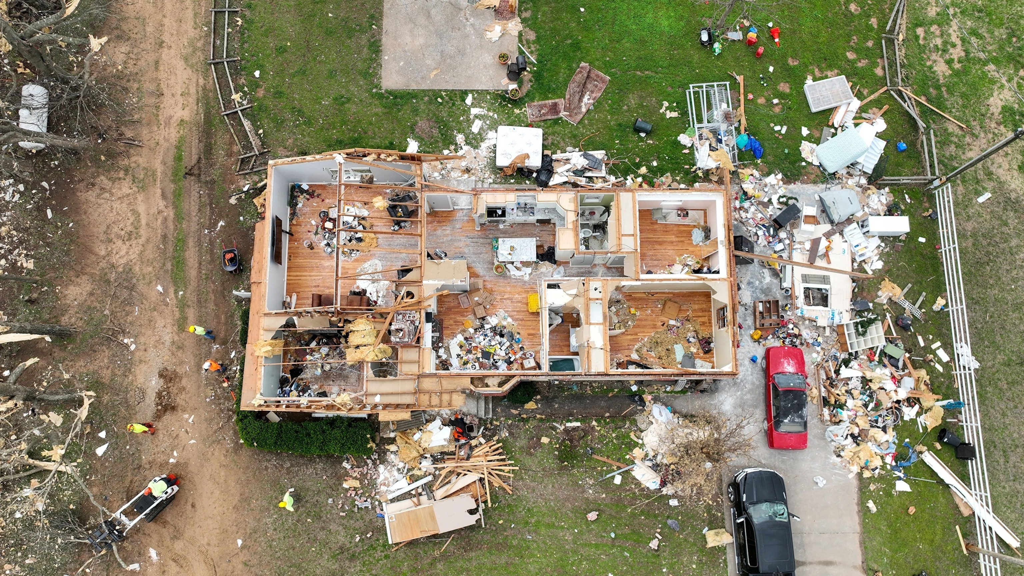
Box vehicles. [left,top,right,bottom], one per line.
[760,345,812,451]
[94,468,183,552]
[730,461,801,576]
